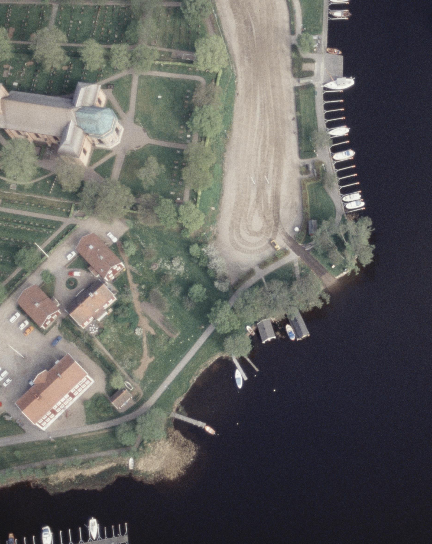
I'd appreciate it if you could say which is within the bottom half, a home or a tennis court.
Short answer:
home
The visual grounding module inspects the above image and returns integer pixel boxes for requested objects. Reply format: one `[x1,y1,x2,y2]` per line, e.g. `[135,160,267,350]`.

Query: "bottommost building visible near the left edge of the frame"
[15,353,94,431]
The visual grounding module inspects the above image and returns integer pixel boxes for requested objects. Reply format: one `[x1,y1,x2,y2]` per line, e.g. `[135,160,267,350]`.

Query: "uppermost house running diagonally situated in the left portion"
[76,233,124,280]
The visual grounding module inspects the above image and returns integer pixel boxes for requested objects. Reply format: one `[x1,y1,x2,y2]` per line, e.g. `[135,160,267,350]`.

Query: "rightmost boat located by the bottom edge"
[86,518,98,539]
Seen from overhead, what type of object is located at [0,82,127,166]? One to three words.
building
